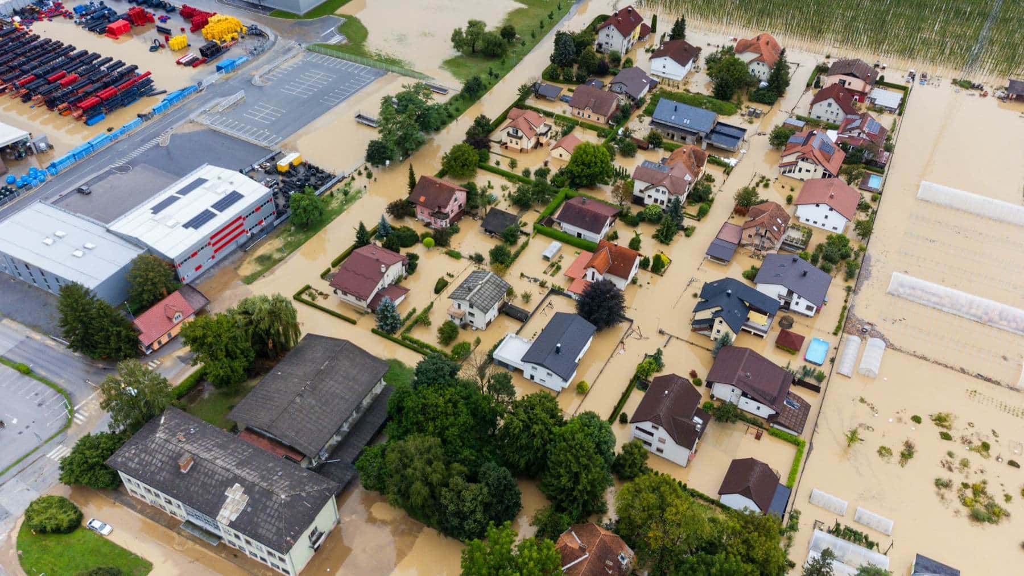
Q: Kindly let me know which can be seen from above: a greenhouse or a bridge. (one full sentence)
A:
Visible in the photo is a greenhouse.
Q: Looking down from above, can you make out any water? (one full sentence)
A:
Yes, there is water in the image.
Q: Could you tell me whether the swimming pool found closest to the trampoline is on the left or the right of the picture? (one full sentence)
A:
The swimming pool found closest to the trampoline sits on the right side.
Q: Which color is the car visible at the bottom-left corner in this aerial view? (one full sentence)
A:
The color of the car visible at the bottom-left corner is white.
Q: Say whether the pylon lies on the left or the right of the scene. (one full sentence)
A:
The pylon sits on the right side.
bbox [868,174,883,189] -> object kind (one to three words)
swimming pool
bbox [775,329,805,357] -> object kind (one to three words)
gazebo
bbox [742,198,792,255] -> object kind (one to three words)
house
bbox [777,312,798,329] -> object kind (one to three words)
trampoline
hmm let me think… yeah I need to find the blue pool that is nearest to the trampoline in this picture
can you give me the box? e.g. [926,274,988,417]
[804,337,829,368]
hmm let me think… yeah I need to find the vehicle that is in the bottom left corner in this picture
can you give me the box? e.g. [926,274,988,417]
[83,516,117,539]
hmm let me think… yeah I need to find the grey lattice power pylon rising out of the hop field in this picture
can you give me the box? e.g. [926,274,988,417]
[945,0,1010,86]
